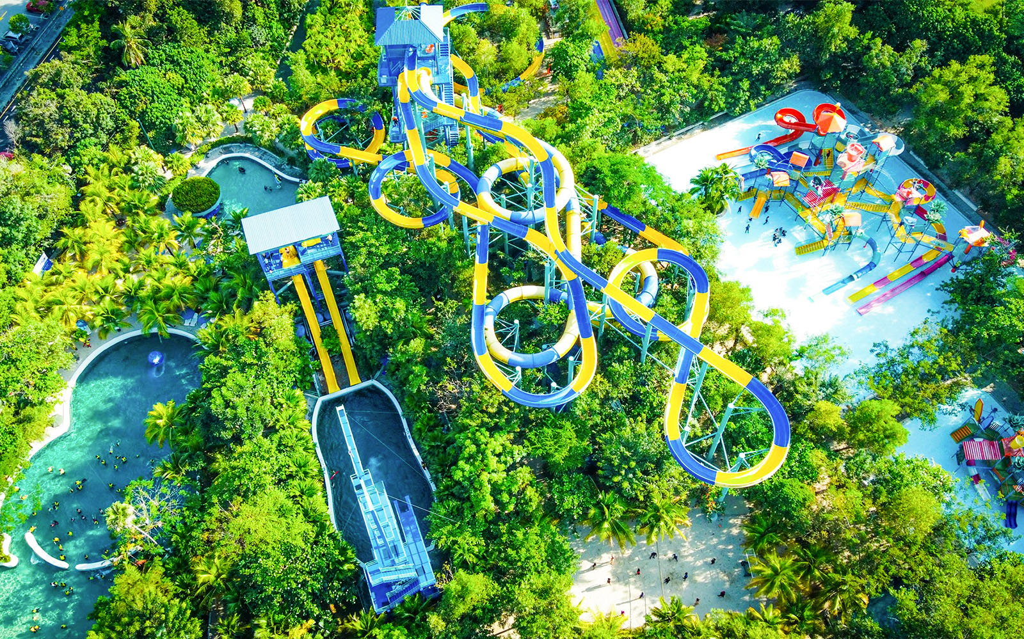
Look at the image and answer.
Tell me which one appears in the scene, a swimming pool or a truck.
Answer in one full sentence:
The one in the frame is a swimming pool.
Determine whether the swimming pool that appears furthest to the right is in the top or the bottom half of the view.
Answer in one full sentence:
You can find the swimming pool that appears furthest to the right in the bottom half.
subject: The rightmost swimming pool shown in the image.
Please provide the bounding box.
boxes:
[315,384,455,624]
